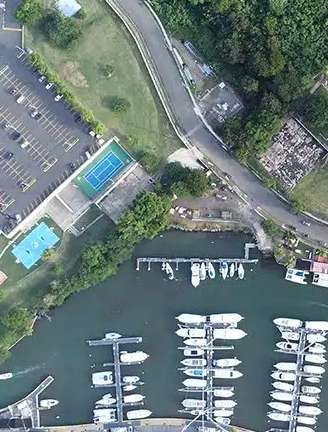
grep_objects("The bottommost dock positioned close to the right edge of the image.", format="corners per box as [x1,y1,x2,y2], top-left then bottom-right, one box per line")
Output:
[265,326,328,432]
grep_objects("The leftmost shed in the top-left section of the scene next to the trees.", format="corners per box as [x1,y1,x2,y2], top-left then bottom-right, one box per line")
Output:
[56,0,82,19]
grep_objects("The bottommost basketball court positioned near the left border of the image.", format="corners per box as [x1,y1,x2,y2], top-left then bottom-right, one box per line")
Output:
[12,223,60,269]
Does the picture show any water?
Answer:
Yes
